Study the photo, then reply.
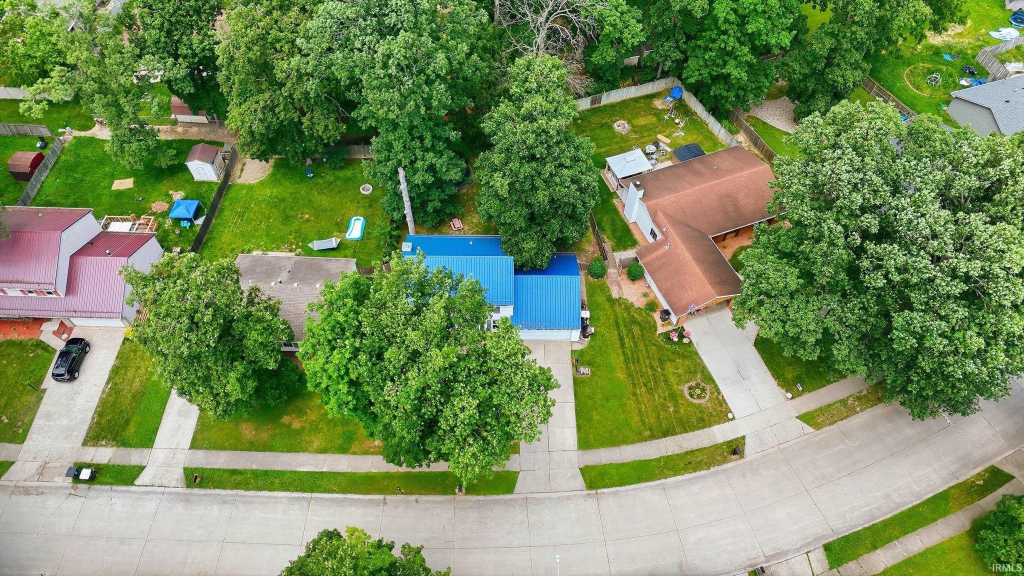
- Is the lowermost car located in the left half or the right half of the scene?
left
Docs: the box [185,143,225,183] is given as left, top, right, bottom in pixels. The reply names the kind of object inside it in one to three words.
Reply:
shed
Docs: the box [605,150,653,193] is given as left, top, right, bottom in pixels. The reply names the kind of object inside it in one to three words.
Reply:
gazebo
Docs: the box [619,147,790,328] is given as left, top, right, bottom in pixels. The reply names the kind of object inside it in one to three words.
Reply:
house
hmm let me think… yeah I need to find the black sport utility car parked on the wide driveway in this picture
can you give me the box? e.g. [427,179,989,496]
[46,339,88,386]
